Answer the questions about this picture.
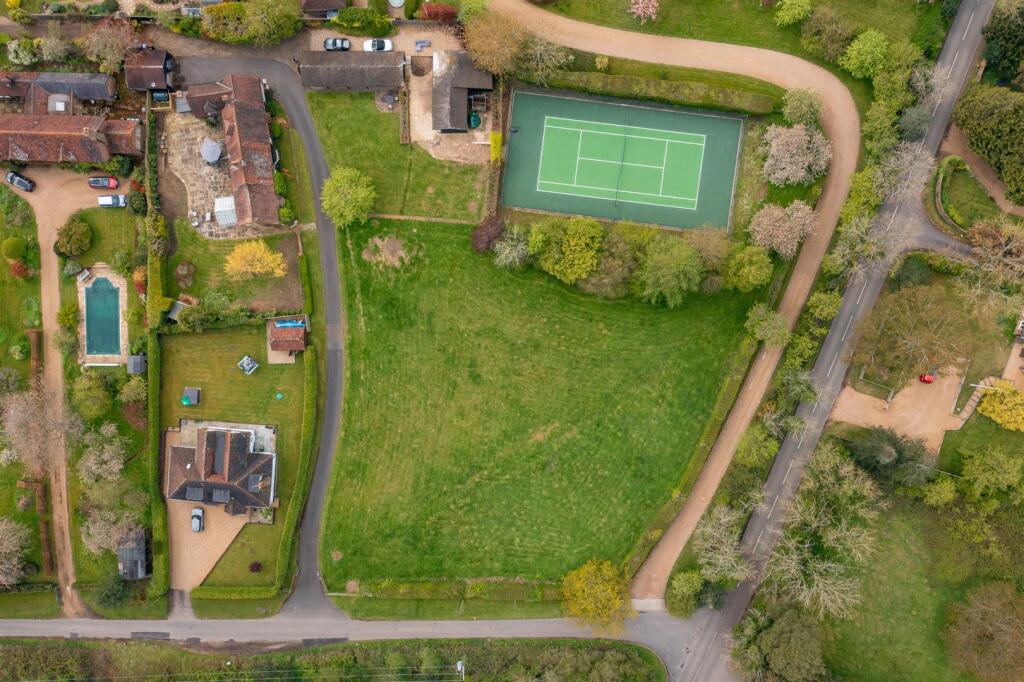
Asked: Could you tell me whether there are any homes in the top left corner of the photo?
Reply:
Yes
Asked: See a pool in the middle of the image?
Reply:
No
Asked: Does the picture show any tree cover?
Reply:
Yes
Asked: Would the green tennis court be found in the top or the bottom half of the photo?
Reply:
top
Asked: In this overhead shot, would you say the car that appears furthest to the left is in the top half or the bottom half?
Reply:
top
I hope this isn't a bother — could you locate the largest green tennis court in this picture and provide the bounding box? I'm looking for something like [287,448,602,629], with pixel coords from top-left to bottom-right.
[499,90,744,234]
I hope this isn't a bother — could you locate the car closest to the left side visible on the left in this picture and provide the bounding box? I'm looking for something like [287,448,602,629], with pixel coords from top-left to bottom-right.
[6,170,39,195]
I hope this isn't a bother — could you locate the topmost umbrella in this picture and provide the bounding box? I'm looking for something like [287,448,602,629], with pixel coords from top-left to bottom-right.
[201,139,223,161]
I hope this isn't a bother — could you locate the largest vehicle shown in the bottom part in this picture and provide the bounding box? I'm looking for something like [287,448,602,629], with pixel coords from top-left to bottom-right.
[191,506,206,533]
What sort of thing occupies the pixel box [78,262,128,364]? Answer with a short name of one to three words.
swimming pool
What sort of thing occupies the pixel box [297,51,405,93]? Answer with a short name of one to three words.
building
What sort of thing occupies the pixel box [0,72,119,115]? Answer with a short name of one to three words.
barn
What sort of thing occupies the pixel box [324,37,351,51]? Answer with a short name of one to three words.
car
